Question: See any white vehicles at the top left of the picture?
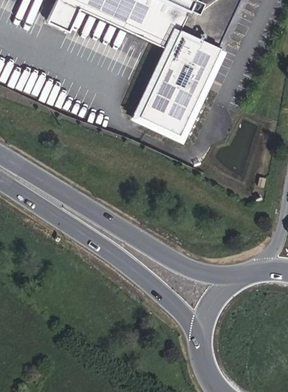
Yes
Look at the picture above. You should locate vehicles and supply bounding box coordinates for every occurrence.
[72,11,85,32]
[54,88,68,109]
[102,212,113,222]
[70,100,80,116]
[270,274,282,280]
[0,56,6,71]
[46,81,62,106]
[190,337,200,348]
[100,116,110,128]
[0,58,15,82]
[38,78,54,102]
[112,28,126,50]
[15,66,32,91]
[94,111,104,126]
[23,0,43,32]
[150,290,163,300]
[62,96,72,112]
[31,72,47,97]
[8,66,22,88]
[86,108,96,123]
[77,103,88,118]
[24,69,39,94]
[24,200,36,209]
[12,0,31,28]
[80,16,96,40]
[102,24,116,46]
[92,20,106,42]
